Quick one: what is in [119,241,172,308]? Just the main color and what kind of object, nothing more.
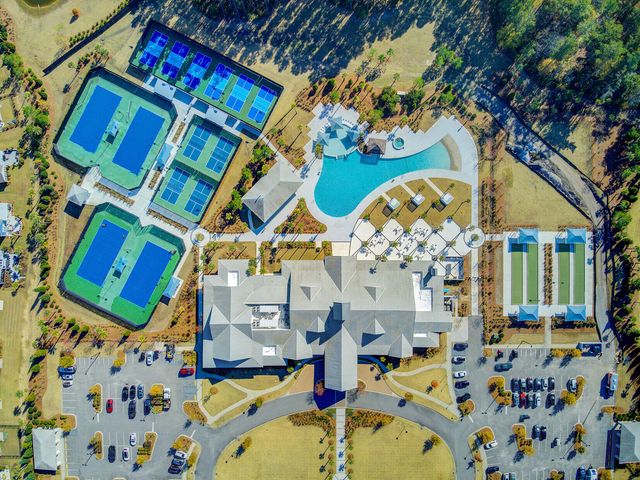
blue tennis court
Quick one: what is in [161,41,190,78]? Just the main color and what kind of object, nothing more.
blue sports court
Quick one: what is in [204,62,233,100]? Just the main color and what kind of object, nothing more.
blue sports court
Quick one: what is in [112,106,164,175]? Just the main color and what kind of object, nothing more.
blue tennis court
